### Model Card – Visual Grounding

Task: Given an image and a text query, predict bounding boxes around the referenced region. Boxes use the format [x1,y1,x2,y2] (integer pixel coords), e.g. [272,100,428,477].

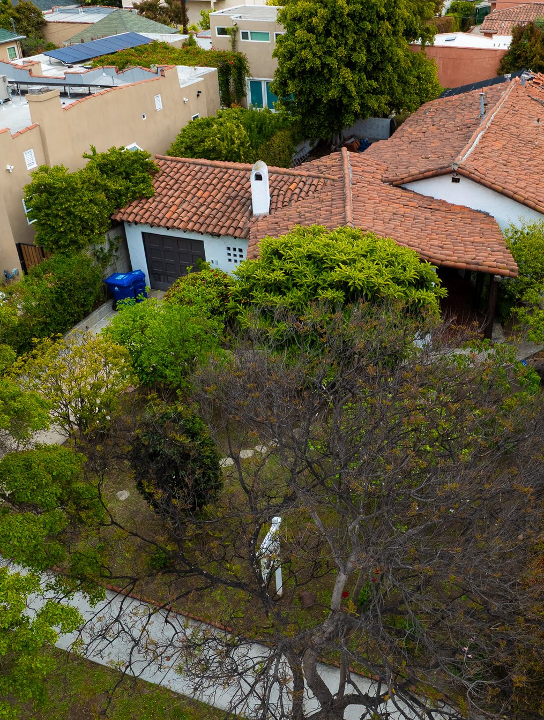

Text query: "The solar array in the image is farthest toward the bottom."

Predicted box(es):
[12,80,116,100]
